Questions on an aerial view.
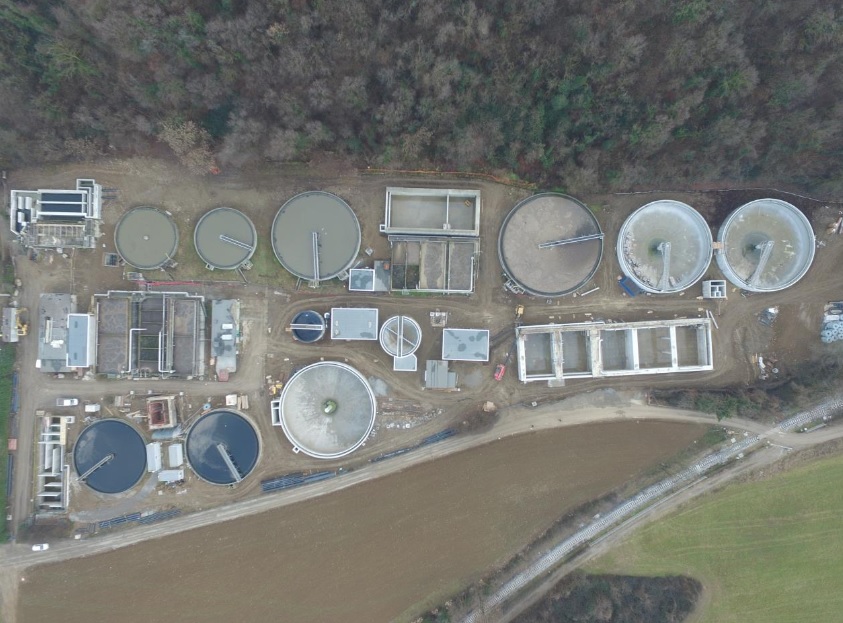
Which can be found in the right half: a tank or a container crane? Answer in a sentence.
The one visible in the right half is a tank.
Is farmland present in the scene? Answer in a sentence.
Yes, farmland shows up in the scene.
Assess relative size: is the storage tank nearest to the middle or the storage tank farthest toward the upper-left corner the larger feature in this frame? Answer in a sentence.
It is the storage tank farthest toward the upper-left corner that is larger, not the storage tank nearest to the middle.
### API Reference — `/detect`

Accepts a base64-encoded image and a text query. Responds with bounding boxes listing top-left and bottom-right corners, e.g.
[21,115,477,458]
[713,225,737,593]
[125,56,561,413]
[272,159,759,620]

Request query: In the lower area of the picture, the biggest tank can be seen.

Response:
[272,360,376,458]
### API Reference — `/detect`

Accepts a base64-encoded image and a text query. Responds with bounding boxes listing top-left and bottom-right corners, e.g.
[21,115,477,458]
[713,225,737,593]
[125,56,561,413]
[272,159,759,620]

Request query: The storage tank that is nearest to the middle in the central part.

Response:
[380,315,422,357]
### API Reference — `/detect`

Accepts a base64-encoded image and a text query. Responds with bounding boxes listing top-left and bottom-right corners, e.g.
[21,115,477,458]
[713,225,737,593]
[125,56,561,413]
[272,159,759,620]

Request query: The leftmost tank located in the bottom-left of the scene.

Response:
[72,416,148,494]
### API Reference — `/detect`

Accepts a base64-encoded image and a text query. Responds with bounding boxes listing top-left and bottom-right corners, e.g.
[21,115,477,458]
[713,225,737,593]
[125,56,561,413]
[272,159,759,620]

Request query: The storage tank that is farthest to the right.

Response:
[715,198,816,293]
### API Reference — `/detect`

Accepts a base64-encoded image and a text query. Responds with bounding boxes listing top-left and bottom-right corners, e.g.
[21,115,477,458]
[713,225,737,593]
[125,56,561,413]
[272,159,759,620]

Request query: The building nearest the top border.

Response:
[349,269,375,291]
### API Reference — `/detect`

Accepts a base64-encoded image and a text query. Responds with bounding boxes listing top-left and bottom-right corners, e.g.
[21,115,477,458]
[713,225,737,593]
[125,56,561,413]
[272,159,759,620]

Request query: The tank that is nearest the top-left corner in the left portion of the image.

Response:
[114,206,179,281]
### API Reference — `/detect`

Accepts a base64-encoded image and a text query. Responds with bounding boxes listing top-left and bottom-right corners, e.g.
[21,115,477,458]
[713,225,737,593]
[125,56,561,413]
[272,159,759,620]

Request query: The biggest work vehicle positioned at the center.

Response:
[492,359,506,380]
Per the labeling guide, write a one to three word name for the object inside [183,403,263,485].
storage tank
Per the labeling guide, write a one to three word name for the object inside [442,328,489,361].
building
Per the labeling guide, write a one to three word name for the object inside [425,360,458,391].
shed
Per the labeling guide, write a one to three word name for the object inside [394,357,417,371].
building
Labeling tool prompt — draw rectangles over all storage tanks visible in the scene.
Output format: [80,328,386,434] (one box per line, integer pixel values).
[272,360,376,458]
[72,416,148,494]
[194,207,258,283]
[614,198,712,294]
[272,191,361,291]
[380,315,422,357]
[183,403,263,485]
[114,206,179,281]
[286,309,326,343]
[497,192,605,297]
[715,198,816,293]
